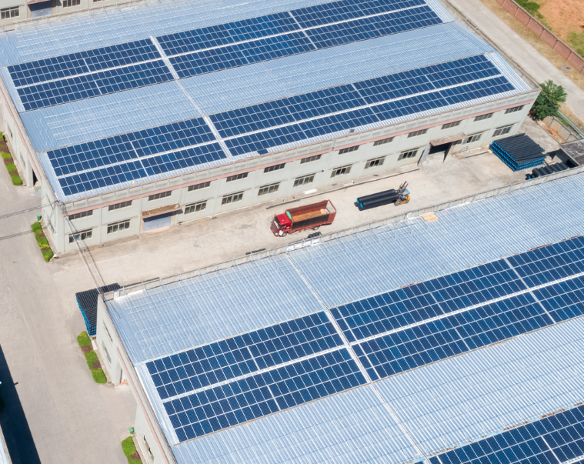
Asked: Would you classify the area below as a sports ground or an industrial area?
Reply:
industrial area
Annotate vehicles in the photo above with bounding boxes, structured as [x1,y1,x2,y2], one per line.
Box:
[269,201,337,235]
[393,183,412,206]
